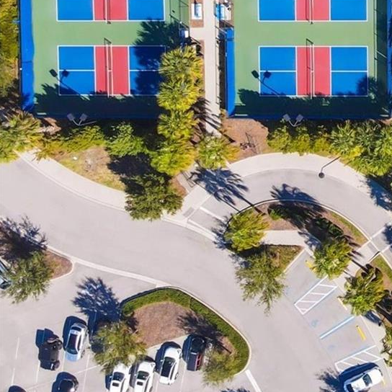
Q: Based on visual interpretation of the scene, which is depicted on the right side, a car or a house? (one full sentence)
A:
Visible on the right side is a car.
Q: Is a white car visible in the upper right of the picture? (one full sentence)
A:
No, no white car appears in the upper right of the picture.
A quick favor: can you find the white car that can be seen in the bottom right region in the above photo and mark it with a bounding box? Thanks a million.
[344,365,384,392]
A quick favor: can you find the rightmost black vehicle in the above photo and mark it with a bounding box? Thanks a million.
[182,331,207,372]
